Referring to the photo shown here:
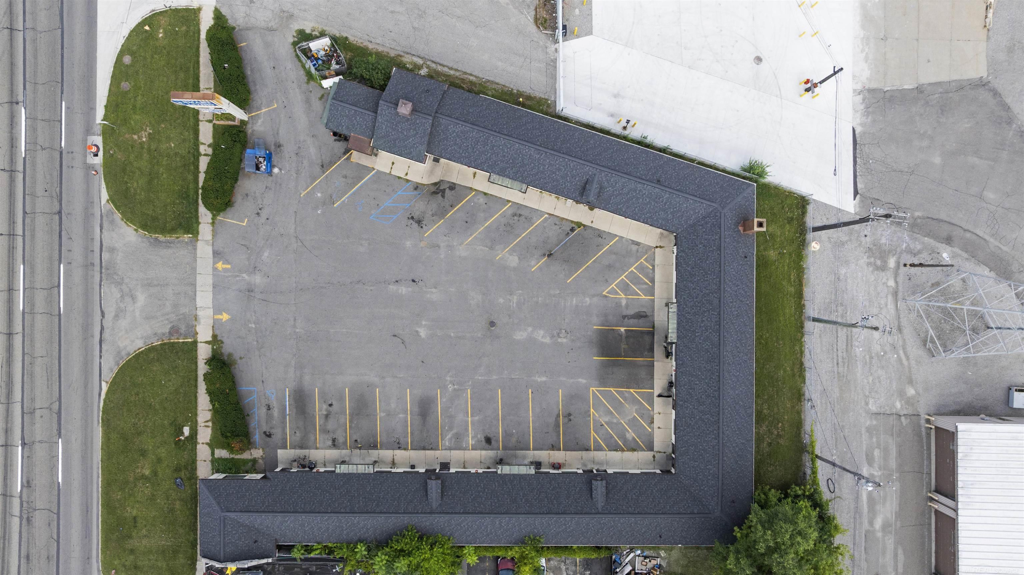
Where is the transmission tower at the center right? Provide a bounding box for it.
[901,268,1024,359]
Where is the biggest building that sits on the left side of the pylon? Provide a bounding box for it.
[198,67,766,570]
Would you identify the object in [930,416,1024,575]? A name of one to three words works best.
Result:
building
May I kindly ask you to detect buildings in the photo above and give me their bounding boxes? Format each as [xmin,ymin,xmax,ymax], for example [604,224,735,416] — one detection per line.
[930,416,1024,575]
[198,67,766,570]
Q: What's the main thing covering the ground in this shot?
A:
paved ground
